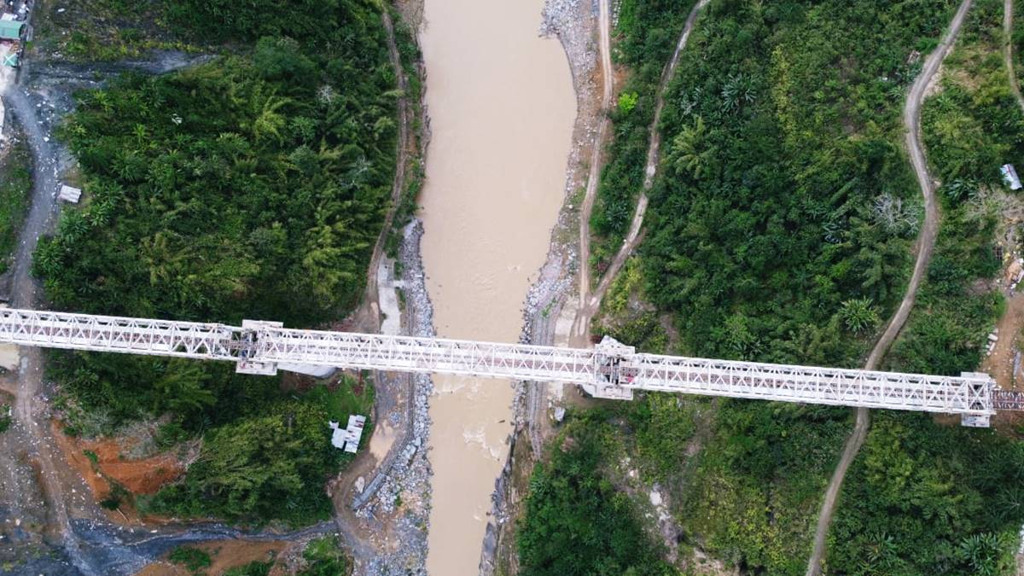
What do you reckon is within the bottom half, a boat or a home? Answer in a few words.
home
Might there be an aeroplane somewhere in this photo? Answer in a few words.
No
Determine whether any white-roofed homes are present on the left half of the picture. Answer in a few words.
Yes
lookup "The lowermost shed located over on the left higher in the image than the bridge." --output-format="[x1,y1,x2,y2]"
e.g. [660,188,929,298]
[59,185,85,204]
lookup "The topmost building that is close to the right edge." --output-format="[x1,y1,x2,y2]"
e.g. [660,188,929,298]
[995,164,1021,192]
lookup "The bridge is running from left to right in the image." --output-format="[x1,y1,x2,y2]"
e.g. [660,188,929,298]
[0,308,1024,429]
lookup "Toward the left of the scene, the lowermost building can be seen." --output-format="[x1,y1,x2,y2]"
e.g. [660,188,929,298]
[330,415,368,453]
